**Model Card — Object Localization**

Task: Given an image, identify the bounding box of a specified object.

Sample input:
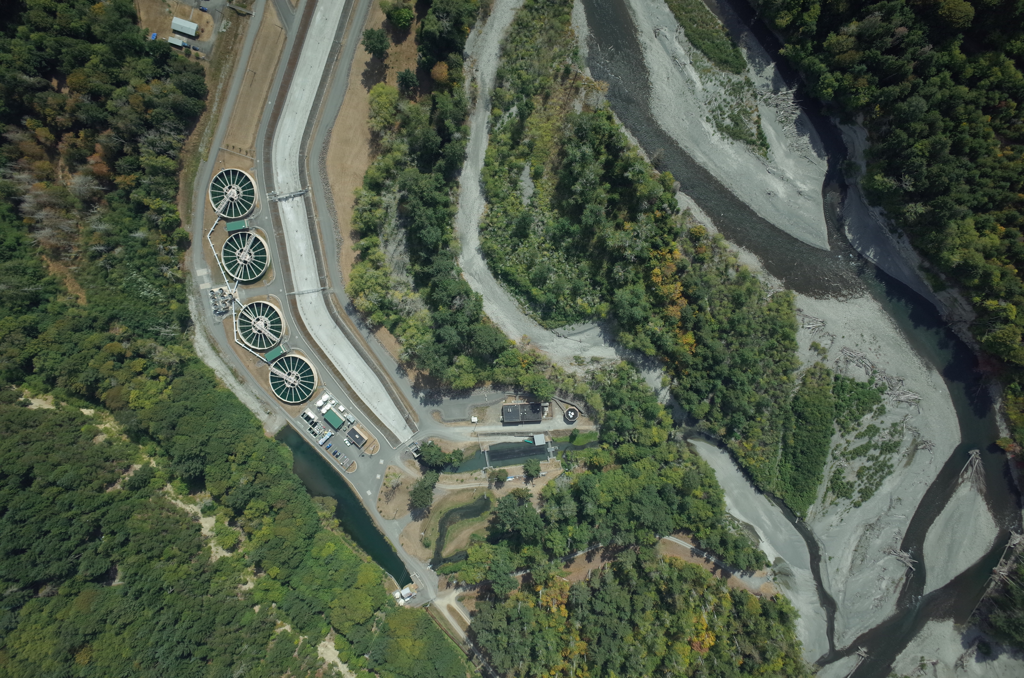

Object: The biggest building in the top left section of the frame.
[171,17,199,37]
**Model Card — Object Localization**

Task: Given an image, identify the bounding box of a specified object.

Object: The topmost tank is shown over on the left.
[209,169,259,218]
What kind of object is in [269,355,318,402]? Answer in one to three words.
storage tank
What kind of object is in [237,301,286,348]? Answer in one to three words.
storage tank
